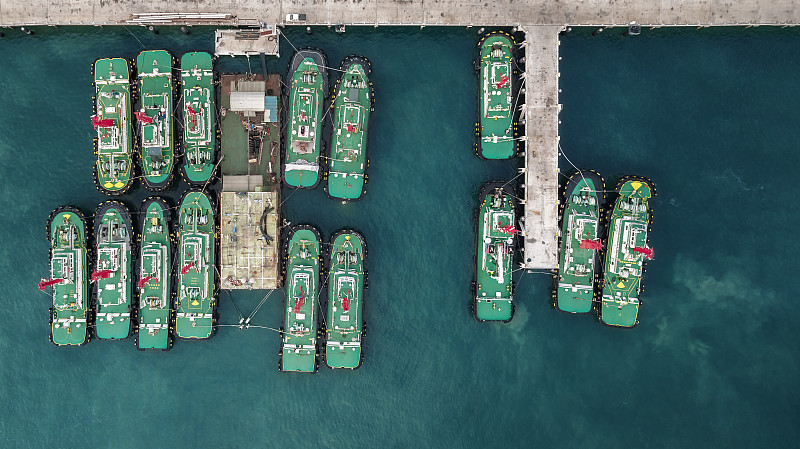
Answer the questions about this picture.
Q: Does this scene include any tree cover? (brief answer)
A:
No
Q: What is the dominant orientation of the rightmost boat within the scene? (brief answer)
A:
up and down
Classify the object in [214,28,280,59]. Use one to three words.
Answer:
pier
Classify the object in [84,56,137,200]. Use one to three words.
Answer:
boat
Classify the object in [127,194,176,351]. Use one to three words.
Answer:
boat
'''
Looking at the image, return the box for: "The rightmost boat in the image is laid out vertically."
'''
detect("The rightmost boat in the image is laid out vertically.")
[597,175,662,331]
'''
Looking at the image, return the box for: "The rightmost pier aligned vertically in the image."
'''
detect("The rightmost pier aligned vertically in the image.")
[516,27,565,272]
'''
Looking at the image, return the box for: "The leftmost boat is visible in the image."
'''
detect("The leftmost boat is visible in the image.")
[34,204,93,348]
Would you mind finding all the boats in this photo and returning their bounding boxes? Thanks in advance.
[553,166,608,315]
[282,45,329,191]
[473,27,519,162]
[278,223,325,376]
[130,47,180,194]
[84,56,137,200]
[177,50,220,188]
[327,52,375,205]
[34,204,93,348]
[323,226,367,371]
[127,194,176,351]
[472,180,518,323]
[597,175,662,331]
[173,187,218,341]
[82,198,137,341]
